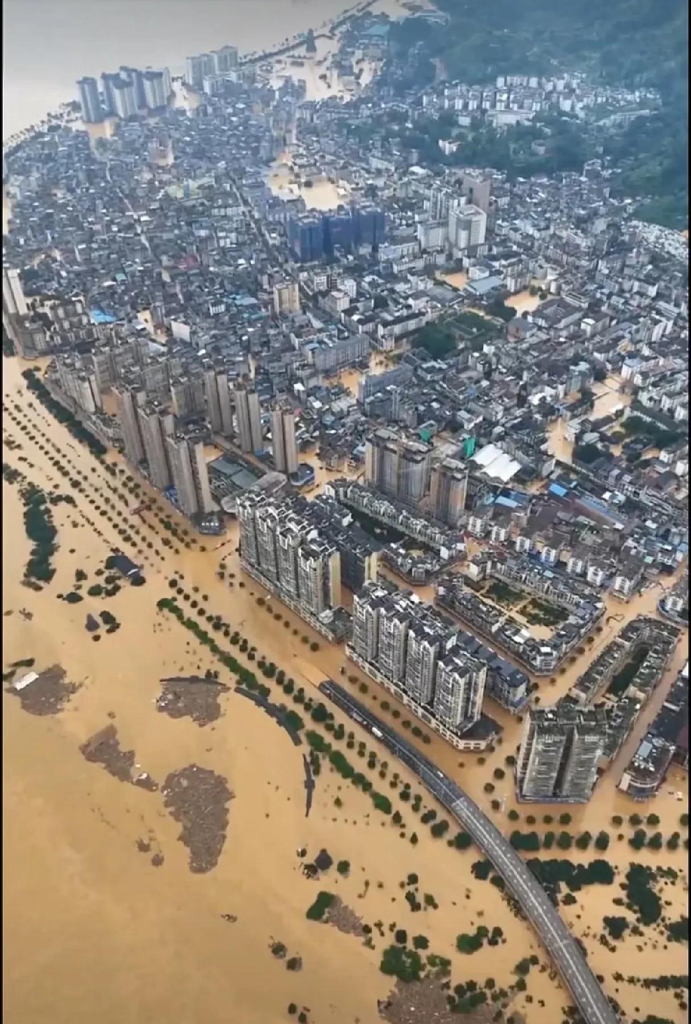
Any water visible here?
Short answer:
Yes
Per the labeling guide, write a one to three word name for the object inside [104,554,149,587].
building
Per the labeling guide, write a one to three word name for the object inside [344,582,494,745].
building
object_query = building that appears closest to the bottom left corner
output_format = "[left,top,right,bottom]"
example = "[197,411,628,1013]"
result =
[313,856,334,878]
